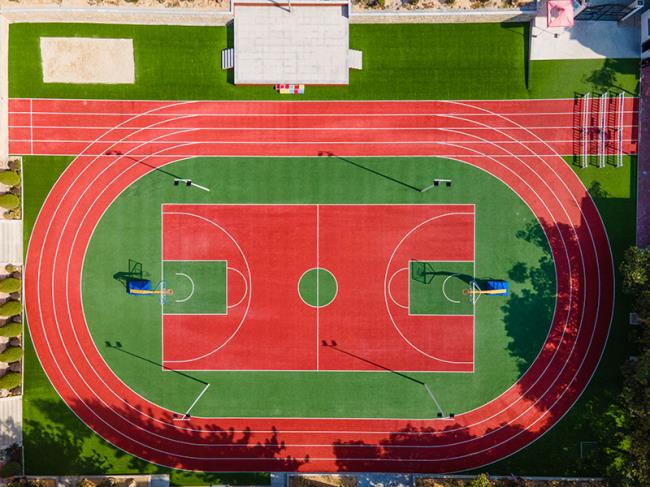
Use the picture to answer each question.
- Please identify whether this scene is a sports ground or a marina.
sports ground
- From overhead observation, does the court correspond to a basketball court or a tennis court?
basketball court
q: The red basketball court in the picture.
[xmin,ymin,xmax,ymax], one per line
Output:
[162,204,475,373]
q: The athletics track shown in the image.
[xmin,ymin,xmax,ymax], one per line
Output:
[8,98,635,473]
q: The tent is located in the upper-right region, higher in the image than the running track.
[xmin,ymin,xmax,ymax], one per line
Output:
[535,0,574,38]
